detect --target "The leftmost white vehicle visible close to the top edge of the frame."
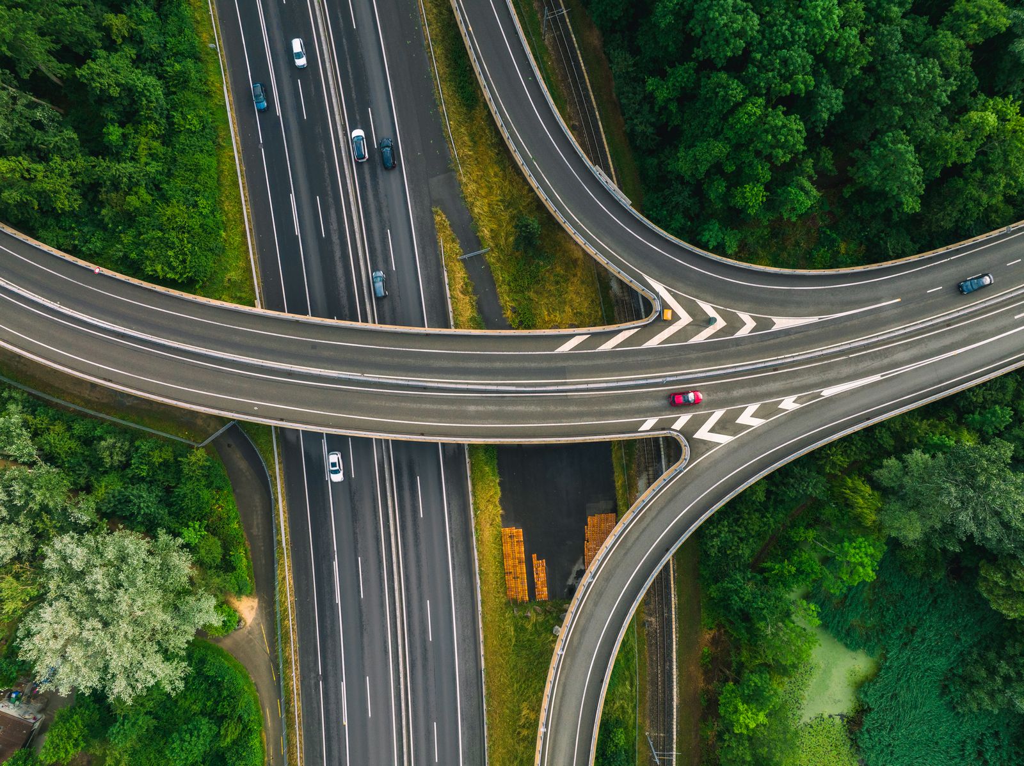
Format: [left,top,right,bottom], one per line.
[291,38,308,68]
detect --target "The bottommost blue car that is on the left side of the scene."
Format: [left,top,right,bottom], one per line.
[372,271,387,297]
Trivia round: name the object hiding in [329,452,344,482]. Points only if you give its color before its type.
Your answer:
white car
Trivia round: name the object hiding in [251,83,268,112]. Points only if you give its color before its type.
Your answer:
blue car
